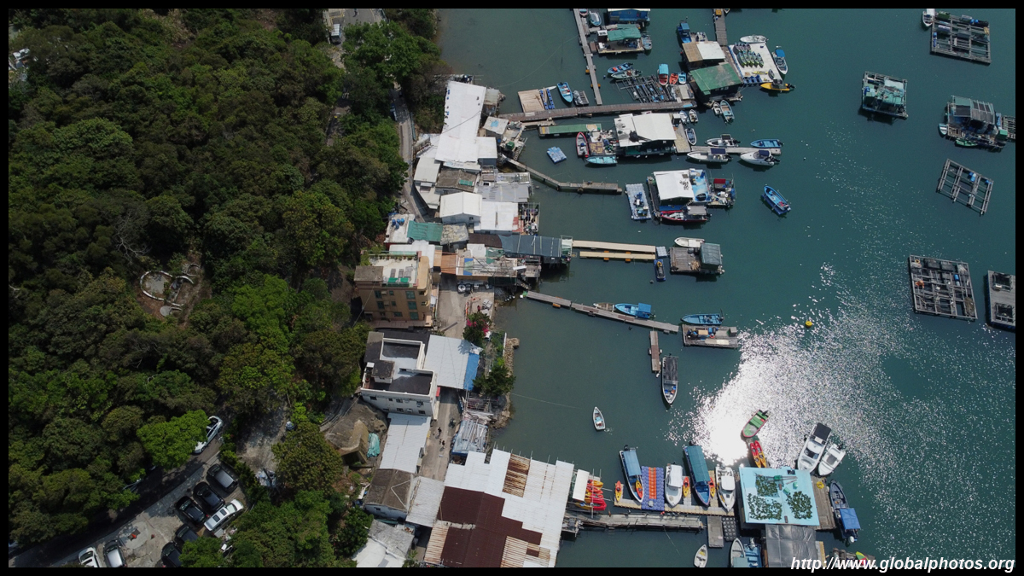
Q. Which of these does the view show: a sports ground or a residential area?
residential area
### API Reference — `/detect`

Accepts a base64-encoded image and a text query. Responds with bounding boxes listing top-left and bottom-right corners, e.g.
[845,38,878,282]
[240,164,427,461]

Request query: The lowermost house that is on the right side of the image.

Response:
[762,524,824,576]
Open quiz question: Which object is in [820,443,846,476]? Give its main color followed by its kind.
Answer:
white boat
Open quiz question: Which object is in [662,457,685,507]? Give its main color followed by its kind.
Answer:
white boat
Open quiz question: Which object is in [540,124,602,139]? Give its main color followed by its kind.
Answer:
green ship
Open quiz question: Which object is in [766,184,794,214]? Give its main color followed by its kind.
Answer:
blue boat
